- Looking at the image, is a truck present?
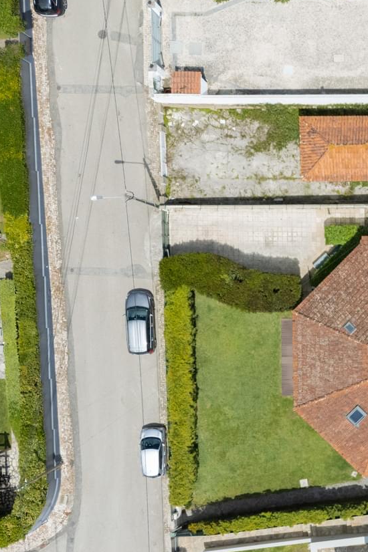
No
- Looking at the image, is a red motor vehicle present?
No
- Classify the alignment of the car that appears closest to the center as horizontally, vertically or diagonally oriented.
vertically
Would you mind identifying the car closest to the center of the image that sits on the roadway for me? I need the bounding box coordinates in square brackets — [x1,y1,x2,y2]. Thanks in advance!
[123,288,157,353]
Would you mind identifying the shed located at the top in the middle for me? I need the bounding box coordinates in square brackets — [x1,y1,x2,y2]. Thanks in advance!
[171,71,213,94]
